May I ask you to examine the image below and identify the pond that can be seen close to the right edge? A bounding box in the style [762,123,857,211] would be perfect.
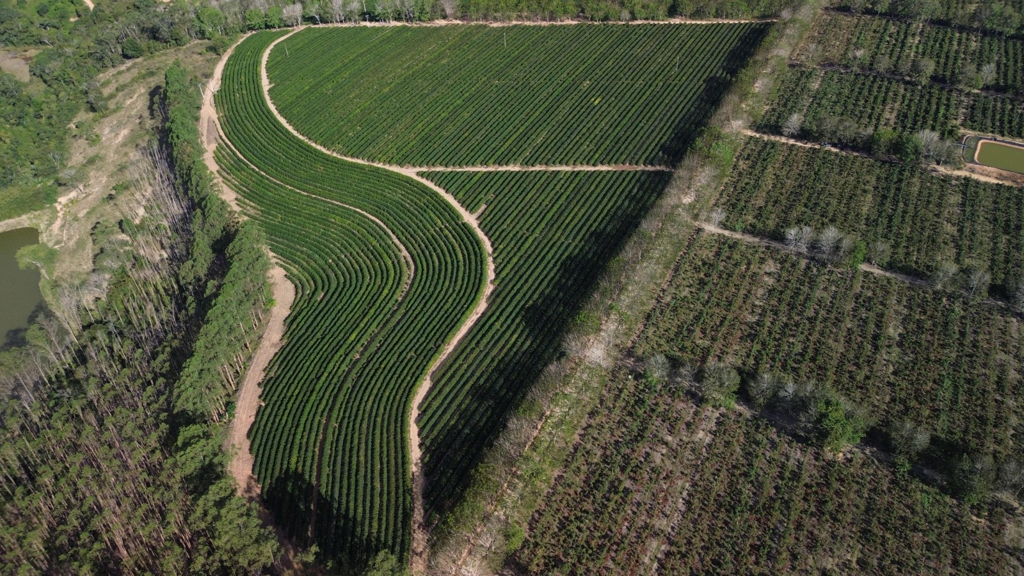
[959,133,1024,183]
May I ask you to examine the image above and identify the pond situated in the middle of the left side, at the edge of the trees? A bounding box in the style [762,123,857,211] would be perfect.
[0,232,58,357]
